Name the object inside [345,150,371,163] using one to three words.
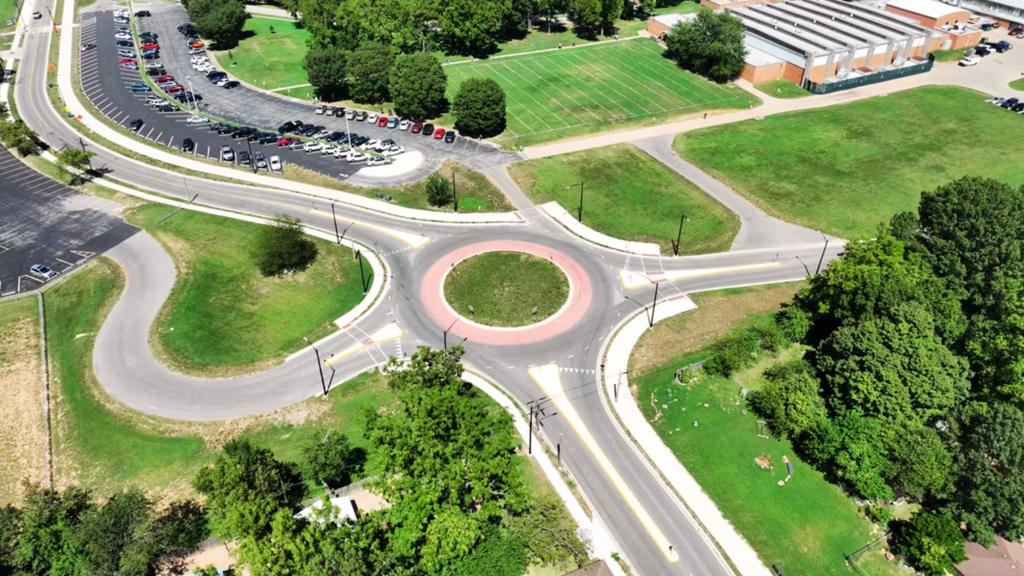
vehicle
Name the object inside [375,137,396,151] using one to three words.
car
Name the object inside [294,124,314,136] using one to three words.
vehicle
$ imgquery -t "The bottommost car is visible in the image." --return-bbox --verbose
[28,264,56,279]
